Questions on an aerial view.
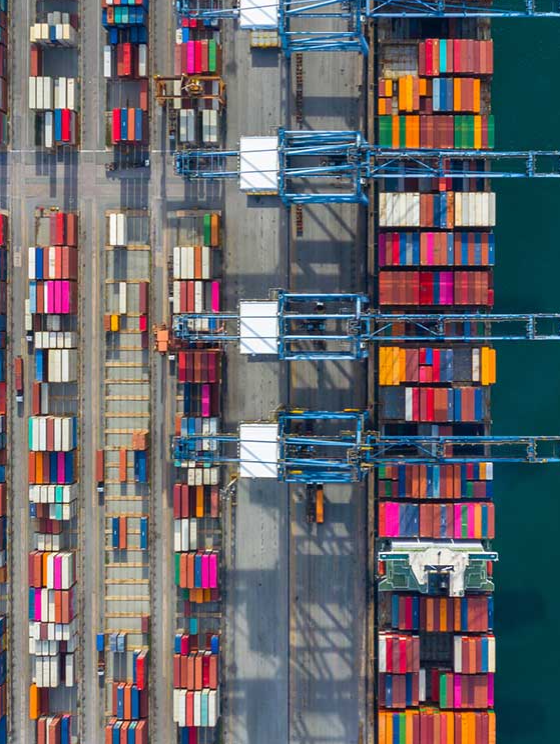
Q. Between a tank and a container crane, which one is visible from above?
container crane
